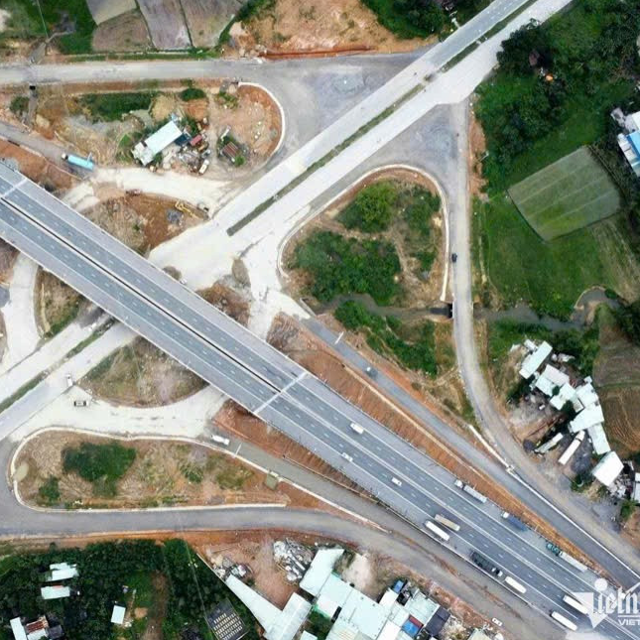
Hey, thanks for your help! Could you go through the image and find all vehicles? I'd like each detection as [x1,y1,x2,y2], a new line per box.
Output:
[548,609,581,635]
[390,477,402,487]
[500,510,530,533]
[558,431,588,465]
[367,368,378,379]
[470,548,505,579]
[197,158,211,174]
[423,519,453,545]
[534,432,566,453]
[503,573,530,597]
[454,478,490,505]
[433,512,463,534]
[66,374,73,387]
[562,593,592,617]
[450,252,458,263]
[545,540,591,574]
[350,422,364,435]
[342,452,353,462]
[211,433,229,446]
[60,151,94,170]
